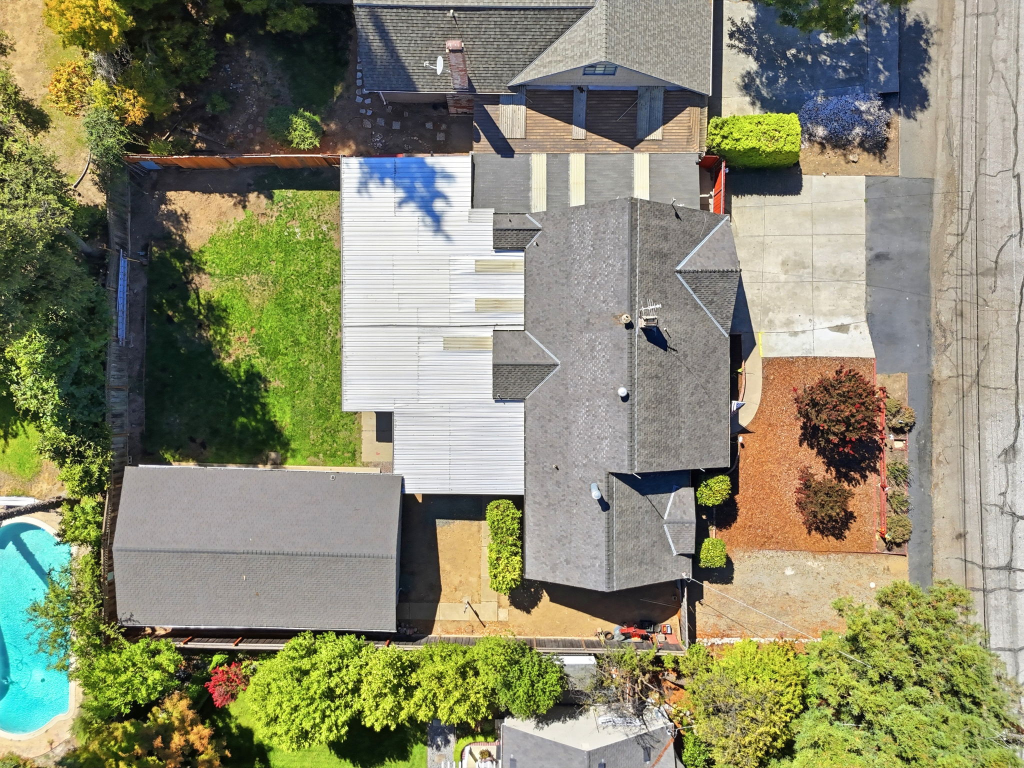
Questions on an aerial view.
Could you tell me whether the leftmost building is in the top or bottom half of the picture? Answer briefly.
bottom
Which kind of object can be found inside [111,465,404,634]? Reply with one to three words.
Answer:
building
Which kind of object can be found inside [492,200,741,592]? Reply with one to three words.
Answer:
house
